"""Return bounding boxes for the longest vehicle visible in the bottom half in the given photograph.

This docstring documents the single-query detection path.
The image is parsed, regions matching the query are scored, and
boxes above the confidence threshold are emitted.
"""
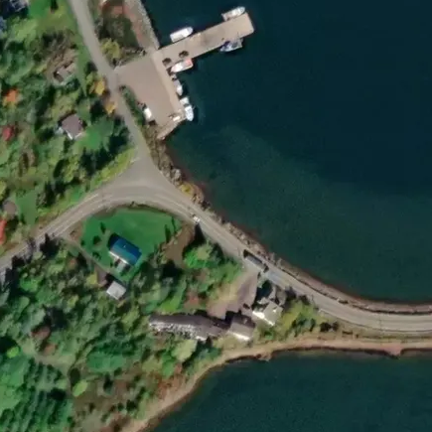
[246,255,267,270]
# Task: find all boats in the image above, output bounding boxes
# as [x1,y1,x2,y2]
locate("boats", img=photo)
[171,59,194,71]
[183,105,193,121]
[170,29,192,42]
[221,38,243,50]
[173,80,183,95]
[222,8,245,21]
